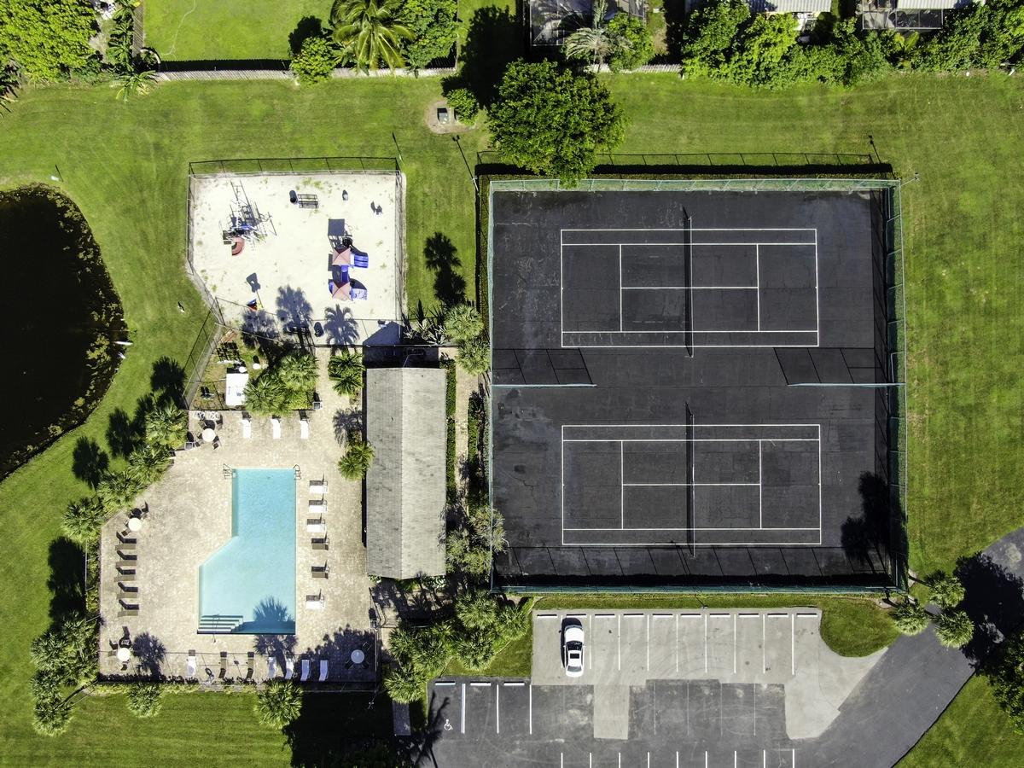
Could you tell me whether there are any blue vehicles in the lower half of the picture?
No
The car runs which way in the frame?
vertically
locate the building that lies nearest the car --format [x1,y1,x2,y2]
[365,367,448,582]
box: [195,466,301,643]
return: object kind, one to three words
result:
swimming pool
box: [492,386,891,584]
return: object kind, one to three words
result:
tennis court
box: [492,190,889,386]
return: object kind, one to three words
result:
tennis court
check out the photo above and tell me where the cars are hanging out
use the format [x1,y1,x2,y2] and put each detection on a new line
[561,626,586,678]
